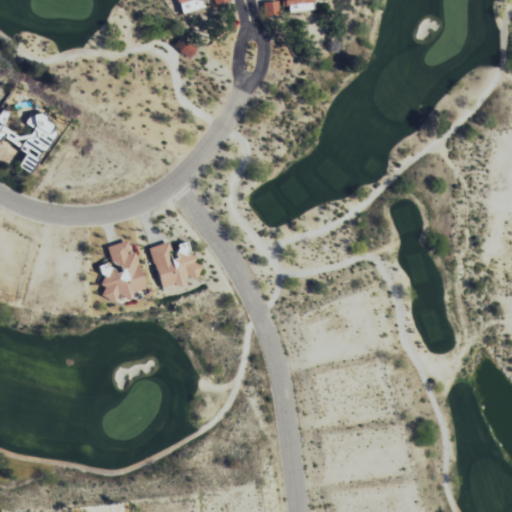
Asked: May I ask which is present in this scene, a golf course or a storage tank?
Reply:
golf course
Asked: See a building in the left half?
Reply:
Yes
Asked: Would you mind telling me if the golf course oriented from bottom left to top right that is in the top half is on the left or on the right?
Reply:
right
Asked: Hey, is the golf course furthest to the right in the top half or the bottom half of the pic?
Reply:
bottom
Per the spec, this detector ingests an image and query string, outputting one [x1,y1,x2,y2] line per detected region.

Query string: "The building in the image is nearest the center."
[147,241,204,295]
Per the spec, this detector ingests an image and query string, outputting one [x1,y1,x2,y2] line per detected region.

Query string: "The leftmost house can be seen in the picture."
[0,110,58,172]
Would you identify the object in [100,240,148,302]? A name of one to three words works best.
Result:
house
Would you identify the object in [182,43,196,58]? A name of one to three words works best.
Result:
gazebo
